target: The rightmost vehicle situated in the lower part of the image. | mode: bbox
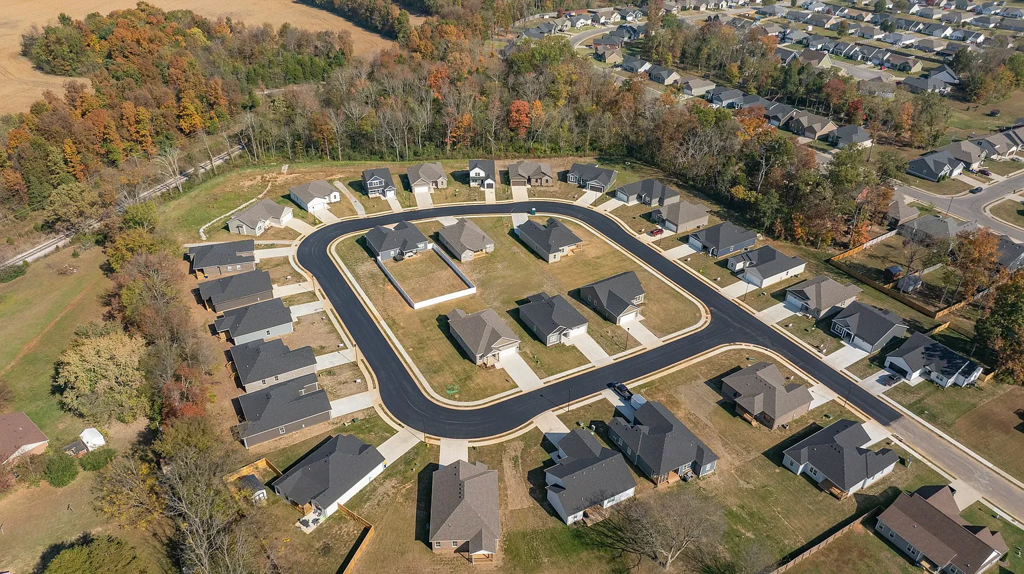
[881,372,907,386]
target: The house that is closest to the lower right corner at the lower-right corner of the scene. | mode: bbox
[875,482,1014,574]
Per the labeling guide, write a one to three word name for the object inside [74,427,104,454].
shed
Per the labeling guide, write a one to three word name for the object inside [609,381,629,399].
vehicle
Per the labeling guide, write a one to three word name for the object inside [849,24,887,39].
house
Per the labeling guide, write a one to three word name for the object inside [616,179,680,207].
house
